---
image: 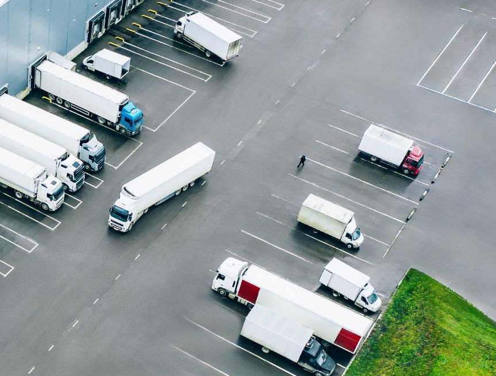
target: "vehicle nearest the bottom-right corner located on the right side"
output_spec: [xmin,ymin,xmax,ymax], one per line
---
[318,258,381,312]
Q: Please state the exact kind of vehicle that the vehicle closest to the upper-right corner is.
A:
truck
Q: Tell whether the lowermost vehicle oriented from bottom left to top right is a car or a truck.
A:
truck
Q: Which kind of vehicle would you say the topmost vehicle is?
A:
truck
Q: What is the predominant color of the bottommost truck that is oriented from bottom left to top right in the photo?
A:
white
